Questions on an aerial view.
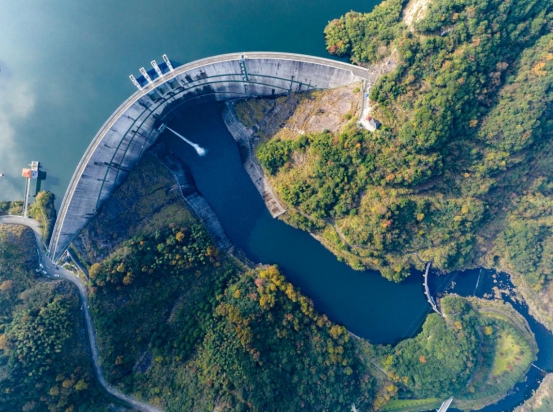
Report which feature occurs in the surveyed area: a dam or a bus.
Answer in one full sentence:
Looking from above, you can make out a dam.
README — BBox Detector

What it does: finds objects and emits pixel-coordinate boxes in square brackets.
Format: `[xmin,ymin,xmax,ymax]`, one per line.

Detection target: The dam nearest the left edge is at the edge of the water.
[46,51,375,262]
